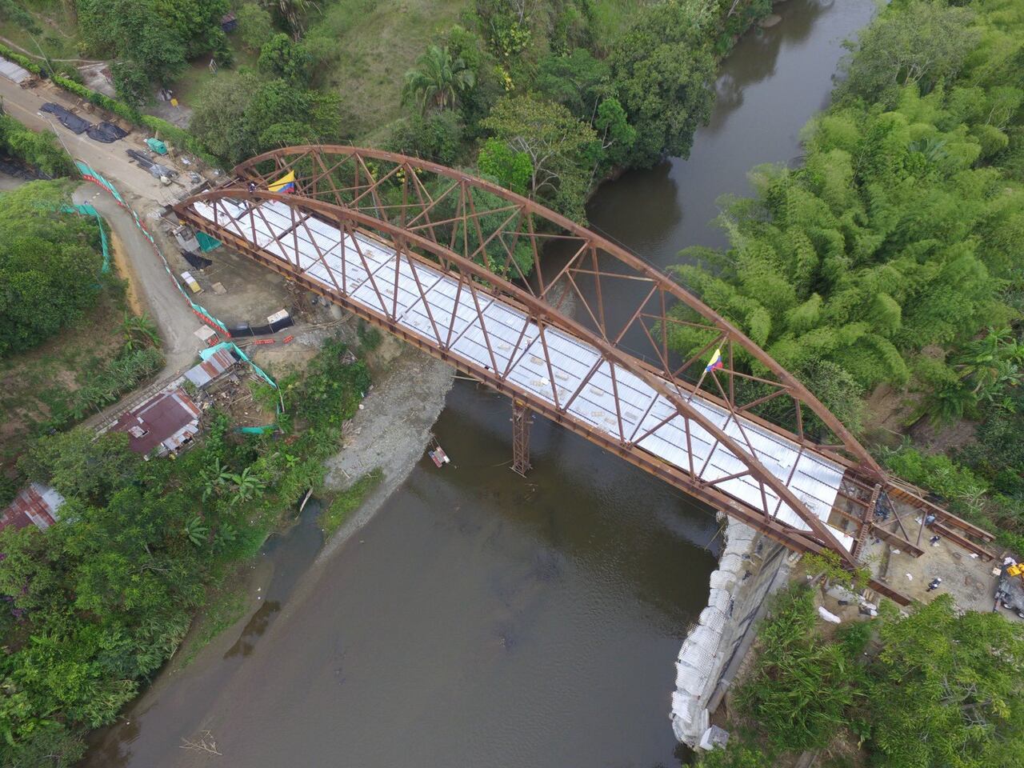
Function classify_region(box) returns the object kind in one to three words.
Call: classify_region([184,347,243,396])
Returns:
shed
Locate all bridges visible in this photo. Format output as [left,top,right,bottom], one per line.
[171,133,889,581]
